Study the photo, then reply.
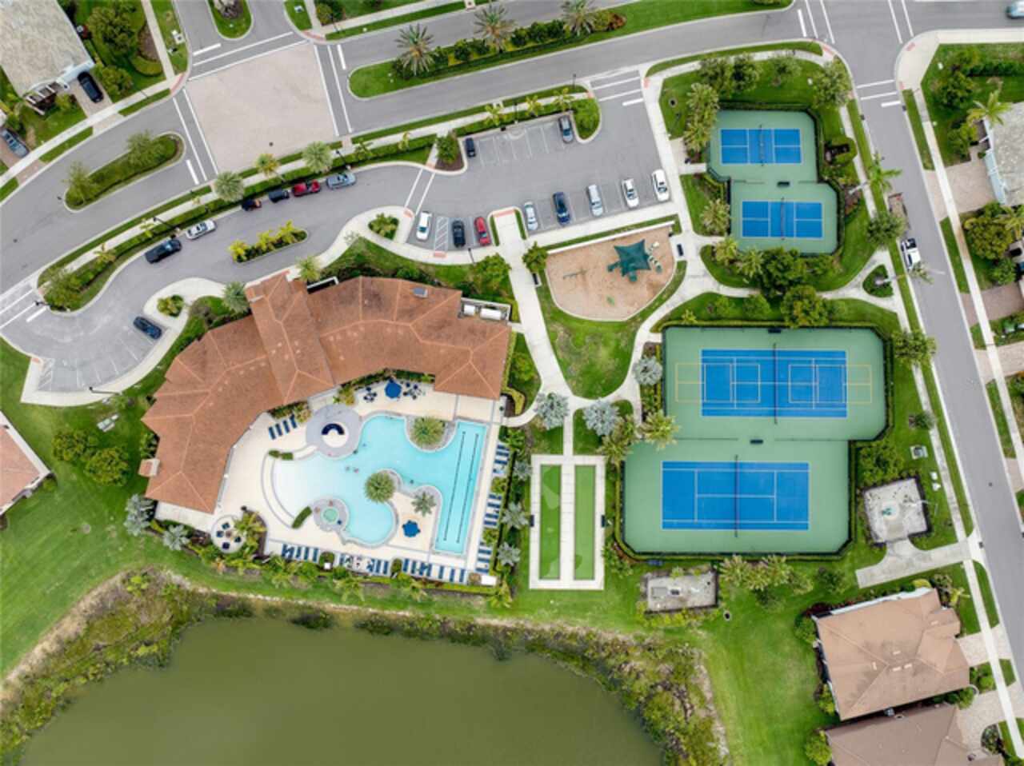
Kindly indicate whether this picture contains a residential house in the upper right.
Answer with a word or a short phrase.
Yes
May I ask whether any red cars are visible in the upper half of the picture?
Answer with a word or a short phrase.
Yes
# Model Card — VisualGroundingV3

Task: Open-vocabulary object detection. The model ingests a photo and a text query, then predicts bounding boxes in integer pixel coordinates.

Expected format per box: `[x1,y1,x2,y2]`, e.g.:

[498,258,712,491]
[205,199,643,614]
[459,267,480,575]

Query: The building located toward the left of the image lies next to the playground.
[137,270,512,515]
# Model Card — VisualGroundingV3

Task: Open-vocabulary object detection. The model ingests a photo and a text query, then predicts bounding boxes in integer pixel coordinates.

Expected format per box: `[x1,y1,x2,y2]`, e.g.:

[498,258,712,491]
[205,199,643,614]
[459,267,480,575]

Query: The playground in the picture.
[546,225,676,322]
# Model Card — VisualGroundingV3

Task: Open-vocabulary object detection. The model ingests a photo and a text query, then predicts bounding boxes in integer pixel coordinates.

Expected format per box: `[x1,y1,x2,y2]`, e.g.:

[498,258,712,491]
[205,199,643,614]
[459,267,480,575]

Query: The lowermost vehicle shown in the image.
[131,316,160,338]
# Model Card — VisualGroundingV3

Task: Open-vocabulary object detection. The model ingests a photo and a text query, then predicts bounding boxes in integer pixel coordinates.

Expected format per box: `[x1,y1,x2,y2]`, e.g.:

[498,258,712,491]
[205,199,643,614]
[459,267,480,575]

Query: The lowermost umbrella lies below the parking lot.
[403,521,418,536]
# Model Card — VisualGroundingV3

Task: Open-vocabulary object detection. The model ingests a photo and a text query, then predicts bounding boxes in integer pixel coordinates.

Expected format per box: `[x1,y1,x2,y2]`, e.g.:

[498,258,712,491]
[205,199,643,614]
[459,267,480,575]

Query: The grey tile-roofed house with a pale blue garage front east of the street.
[975,101,1024,208]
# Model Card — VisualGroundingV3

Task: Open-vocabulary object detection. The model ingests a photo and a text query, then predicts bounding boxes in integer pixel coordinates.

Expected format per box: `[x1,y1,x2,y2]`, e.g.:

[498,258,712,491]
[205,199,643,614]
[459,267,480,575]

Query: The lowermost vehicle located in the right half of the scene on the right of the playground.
[903,236,923,271]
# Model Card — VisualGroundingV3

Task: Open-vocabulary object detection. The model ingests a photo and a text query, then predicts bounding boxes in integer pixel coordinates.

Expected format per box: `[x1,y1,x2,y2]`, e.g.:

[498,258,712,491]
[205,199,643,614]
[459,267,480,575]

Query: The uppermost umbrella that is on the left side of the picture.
[385,382,402,399]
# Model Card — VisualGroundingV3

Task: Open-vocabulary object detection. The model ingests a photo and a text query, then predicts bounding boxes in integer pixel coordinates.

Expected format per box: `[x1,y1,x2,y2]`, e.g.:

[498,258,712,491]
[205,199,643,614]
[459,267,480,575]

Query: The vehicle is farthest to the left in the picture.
[0,126,24,154]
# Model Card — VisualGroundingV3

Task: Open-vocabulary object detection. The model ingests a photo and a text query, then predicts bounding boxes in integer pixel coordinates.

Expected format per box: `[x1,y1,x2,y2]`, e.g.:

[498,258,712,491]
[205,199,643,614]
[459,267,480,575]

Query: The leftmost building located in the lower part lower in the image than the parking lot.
[0,423,48,512]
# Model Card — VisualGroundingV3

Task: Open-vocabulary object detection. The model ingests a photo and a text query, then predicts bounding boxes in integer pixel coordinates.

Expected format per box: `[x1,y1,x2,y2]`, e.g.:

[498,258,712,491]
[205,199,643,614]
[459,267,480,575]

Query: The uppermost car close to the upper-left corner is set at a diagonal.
[75,69,99,100]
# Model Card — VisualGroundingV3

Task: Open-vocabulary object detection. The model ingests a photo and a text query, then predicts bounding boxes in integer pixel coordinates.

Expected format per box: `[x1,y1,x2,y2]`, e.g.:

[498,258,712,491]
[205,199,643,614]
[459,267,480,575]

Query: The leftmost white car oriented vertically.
[415,211,430,239]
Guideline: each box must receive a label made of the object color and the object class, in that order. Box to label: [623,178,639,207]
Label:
white car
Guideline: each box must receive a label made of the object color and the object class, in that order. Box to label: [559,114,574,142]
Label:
gray car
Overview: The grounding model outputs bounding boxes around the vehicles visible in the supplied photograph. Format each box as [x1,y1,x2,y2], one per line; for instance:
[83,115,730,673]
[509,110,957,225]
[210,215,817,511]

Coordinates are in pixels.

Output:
[291,180,319,196]
[623,178,639,207]
[75,69,99,100]
[903,236,923,271]
[554,192,570,222]
[415,211,430,239]
[0,126,24,154]
[474,216,489,245]
[184,220,215,239]
[239,196,263,211]
[325,171,356,187]
[559,114,574,142]
[588,185,603,214]
[523,201,538,230]
[652,168,669,199]
[131,316,160,338]
[464,136,475,156]
[452,218,465,247]
[266,186,289,202]
[142,239,180,262]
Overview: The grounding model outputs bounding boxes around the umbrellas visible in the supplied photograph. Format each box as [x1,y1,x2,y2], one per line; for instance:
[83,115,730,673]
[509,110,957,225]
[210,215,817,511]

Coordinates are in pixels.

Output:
[385,382,402,399]
[403,521,418,536]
